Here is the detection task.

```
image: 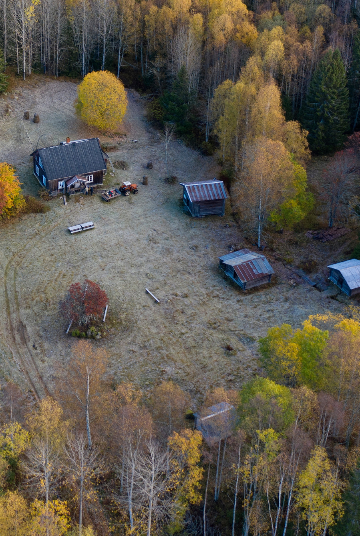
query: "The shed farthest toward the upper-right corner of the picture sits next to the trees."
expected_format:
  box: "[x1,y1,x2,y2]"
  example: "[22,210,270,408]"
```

[184,179,227,216]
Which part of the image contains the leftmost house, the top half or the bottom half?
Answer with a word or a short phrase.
top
